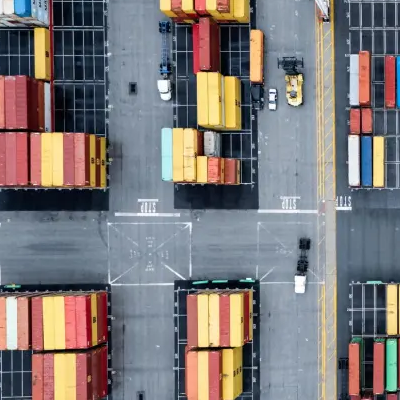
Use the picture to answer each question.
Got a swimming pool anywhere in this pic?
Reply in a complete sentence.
No, there's no swimming pool here.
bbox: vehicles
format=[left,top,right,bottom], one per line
[291,239,307,294]
[268,88,275,110]
[337,357,348,400]
[276,58,303,105]
[248,75,262,109]
[157,20,173,100]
